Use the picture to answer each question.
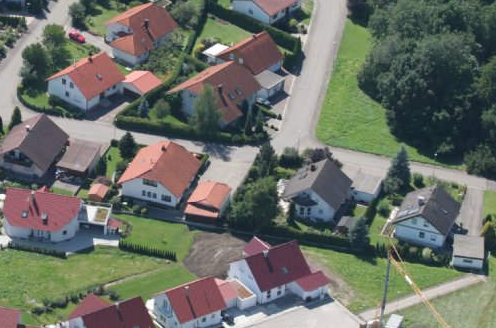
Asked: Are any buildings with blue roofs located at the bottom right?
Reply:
No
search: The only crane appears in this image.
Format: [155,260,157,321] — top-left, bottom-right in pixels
[374,235,453,328]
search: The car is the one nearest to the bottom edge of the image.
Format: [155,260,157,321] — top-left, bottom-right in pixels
[221,310,237,326]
